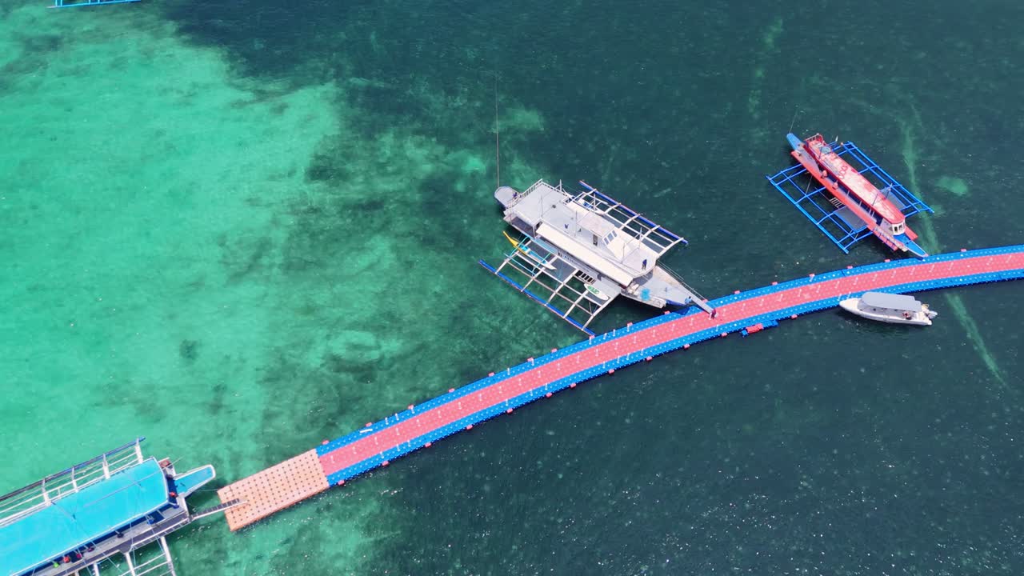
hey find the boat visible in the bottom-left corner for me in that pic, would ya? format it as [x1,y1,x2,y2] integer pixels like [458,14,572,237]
[0,436,218,576]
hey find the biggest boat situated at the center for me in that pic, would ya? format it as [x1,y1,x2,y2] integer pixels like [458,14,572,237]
[478,175,691,334]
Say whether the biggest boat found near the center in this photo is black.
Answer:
No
